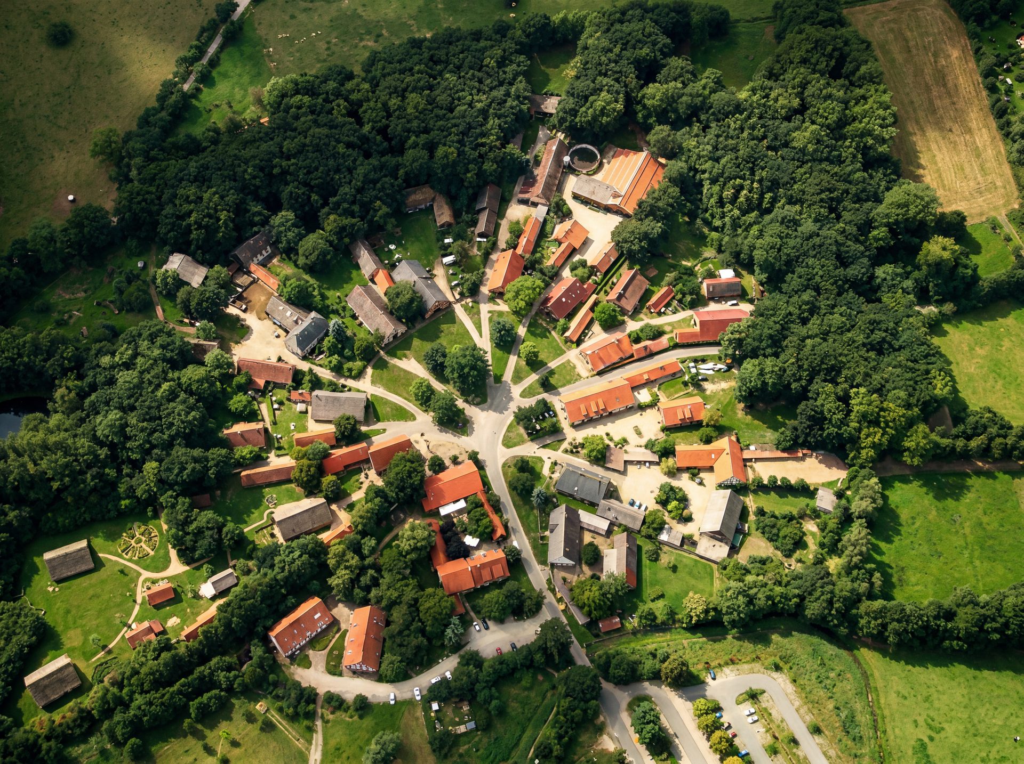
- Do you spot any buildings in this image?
Yes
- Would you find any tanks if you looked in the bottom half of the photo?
No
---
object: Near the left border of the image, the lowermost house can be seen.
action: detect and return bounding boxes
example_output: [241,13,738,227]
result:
[27,654,82,708]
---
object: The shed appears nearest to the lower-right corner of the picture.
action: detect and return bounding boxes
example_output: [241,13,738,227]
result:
[817,488,838,512]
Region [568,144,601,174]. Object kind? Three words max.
storage tank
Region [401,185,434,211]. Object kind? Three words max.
barn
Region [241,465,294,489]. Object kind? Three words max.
building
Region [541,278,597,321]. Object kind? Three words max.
house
